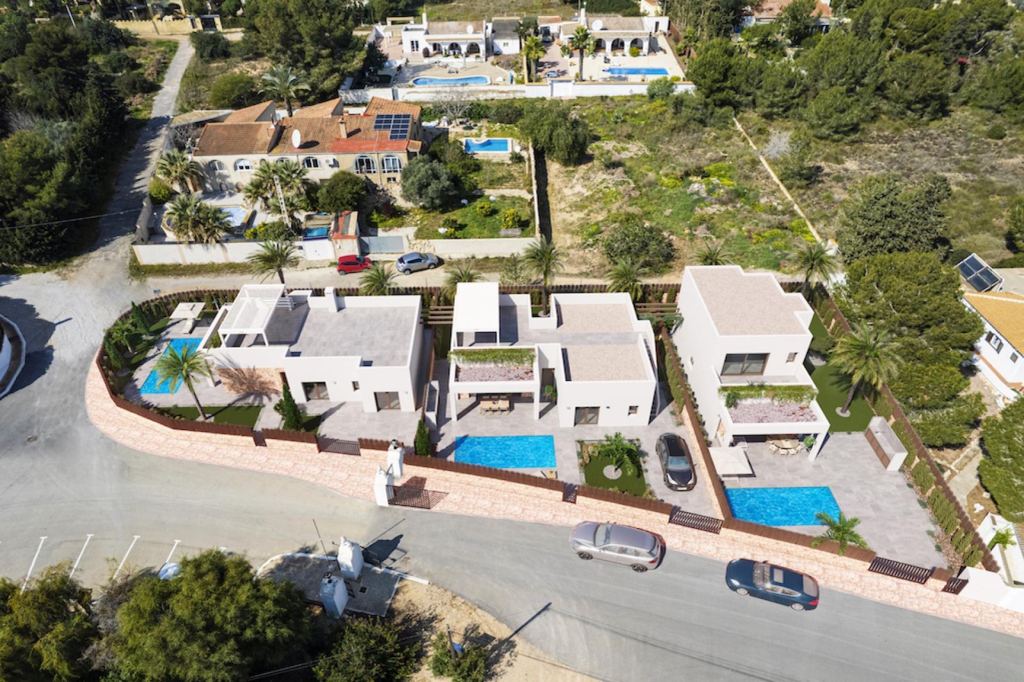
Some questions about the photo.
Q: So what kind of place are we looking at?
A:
residential area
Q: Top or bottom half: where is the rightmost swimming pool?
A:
bottom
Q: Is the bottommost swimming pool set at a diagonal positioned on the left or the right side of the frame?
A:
left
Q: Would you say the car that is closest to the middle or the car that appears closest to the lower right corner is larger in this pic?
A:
the car that appears closest to the lower right corner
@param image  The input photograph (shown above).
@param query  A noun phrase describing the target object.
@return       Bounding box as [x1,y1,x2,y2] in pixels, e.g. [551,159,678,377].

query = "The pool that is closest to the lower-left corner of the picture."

[134,336,208,396]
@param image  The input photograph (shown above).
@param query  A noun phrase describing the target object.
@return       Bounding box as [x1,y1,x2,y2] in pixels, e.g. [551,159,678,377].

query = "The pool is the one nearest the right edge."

[720,483,847,530]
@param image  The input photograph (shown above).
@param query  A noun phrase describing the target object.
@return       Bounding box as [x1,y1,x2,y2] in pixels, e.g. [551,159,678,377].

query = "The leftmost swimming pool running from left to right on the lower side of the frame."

[450,433,562,472]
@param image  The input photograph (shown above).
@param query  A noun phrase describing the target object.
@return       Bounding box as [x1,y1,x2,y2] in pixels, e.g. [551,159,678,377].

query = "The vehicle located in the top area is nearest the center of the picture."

[393,249,441,275]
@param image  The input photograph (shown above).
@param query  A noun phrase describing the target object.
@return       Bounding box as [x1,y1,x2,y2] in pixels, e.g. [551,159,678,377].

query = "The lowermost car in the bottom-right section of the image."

[723,551,823,611]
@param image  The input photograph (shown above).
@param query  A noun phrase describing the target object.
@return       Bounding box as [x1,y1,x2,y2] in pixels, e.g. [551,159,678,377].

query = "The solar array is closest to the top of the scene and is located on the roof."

[369,110,406,146]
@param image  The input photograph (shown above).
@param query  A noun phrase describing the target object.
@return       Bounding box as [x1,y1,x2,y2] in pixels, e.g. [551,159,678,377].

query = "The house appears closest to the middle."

[449,283,661,427]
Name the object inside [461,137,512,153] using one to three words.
swimming pool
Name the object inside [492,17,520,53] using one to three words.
shed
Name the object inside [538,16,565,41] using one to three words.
building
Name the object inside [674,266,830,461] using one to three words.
house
